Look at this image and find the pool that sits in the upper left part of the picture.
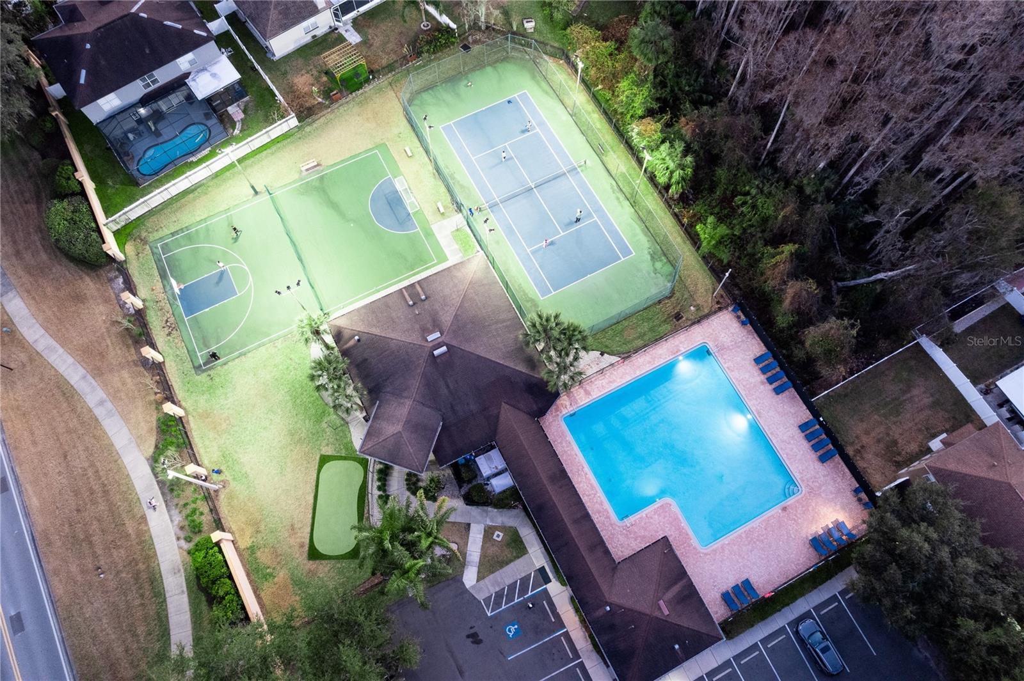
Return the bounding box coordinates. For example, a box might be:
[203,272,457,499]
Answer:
[135,121,211,175]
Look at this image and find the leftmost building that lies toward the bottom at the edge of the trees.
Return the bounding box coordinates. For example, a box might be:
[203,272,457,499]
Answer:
[328,253,726,681]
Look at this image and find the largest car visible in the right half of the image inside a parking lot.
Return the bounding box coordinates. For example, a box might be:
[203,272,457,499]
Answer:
[798,615,849,676]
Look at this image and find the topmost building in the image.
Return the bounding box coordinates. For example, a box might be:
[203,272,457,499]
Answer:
[234,0,383,61]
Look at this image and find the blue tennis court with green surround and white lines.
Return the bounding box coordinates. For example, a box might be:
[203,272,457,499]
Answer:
[407,56,674,337]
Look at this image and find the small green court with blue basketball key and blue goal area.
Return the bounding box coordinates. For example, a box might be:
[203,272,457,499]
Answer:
[148,143,448,375]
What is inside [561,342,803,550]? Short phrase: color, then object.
blue swimming pool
